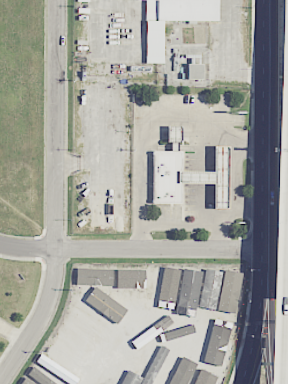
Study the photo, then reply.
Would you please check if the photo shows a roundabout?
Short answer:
No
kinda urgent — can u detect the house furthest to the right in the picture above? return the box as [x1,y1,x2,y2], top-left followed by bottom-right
[219,270,244,314]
